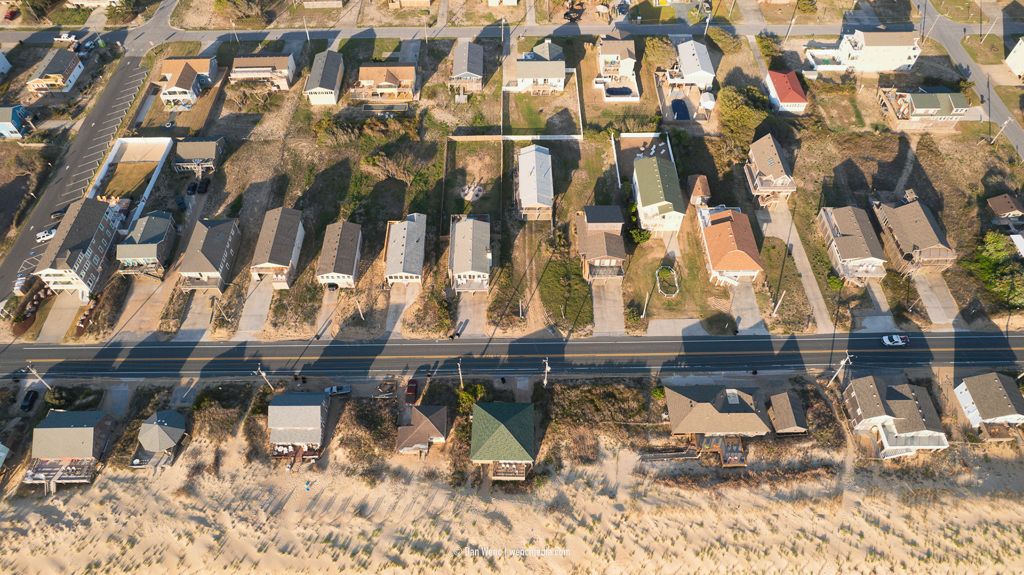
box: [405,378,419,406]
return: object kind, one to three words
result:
vehicle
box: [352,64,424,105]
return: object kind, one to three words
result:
house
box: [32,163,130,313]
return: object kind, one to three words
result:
building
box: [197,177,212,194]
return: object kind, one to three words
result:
car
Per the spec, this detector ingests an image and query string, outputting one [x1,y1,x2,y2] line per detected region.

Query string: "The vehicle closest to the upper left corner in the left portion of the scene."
[3,10,17,22]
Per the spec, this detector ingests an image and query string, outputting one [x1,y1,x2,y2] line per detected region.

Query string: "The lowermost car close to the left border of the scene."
[18,388,40,412]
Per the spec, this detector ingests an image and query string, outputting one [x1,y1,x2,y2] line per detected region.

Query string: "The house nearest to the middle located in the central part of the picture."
[447,217,491,303]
